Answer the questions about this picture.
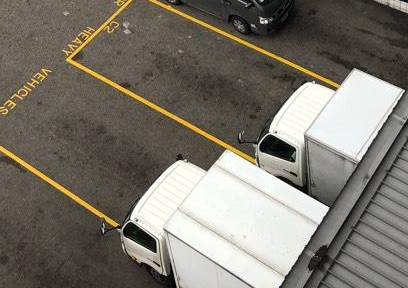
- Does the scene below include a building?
No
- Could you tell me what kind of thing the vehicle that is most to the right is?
truck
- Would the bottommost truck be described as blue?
No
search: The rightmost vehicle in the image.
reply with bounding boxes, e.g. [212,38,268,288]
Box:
[243,68,402,205]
